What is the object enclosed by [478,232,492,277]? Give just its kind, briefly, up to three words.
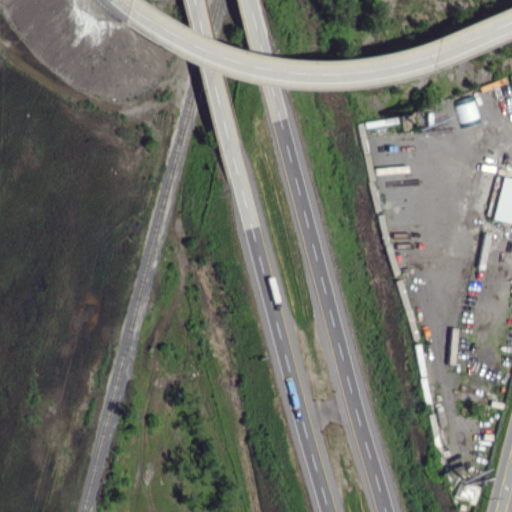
vehicle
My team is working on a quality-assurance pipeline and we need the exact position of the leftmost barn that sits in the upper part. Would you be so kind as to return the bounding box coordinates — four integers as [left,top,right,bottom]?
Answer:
[454,96,480,128]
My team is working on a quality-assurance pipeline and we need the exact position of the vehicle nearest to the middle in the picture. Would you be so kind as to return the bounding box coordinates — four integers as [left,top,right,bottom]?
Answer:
[269,276,282,310]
